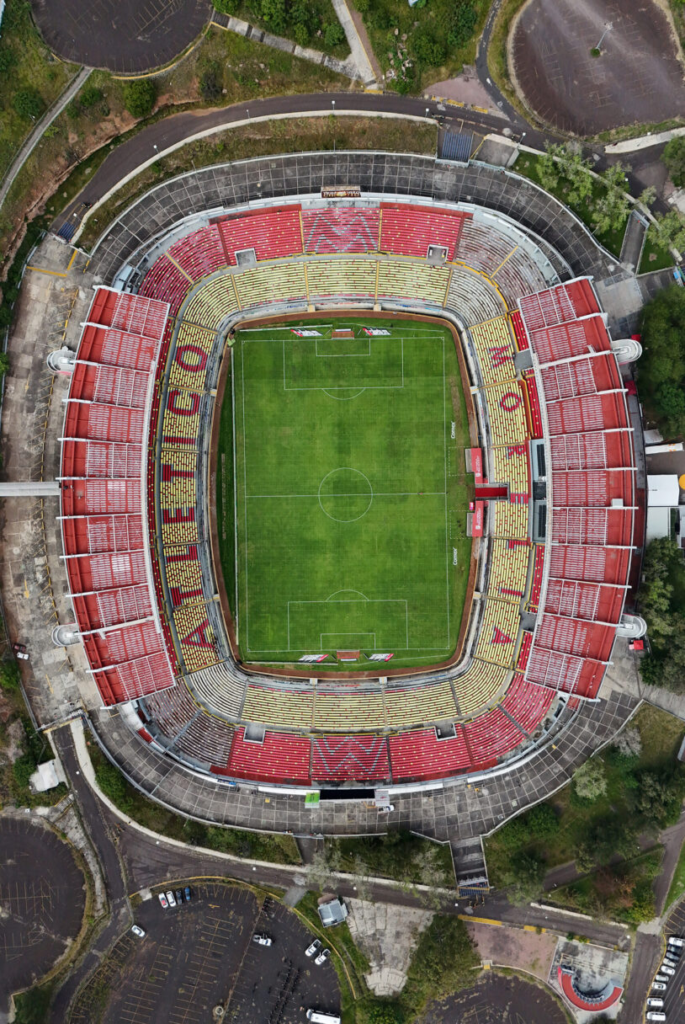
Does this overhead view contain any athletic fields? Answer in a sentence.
Yes, looking at the shot, I can spot an athletic field.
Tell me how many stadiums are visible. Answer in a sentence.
My tally gives 1 stadium in this photo.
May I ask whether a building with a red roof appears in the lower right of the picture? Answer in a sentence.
Yes, there is a building with a red roof in the lower right of the picture.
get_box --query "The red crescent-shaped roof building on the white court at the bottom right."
[556,965,624,1012]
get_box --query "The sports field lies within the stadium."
[209,310,480,678]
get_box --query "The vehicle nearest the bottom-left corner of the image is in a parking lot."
[131,926,144,938]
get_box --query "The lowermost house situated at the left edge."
[30,756,63,792]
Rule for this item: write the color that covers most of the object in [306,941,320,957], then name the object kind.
white vehicle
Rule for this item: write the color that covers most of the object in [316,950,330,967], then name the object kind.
white vehicle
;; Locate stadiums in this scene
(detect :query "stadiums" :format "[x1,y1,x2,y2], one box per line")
[49,192,645,797]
